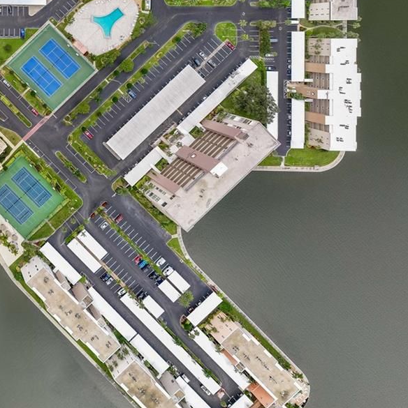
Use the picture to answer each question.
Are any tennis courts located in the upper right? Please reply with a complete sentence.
No, no tennis court appears in the upper right.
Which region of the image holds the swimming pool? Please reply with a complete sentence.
Look in the top left portion of the view to spot the swimming pool.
